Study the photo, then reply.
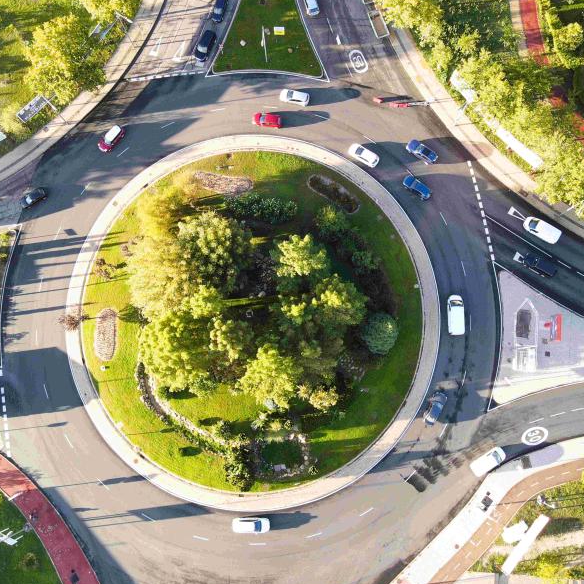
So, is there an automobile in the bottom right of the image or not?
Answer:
Yes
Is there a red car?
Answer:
Yes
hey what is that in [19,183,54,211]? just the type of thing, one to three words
car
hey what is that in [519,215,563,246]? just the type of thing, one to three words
car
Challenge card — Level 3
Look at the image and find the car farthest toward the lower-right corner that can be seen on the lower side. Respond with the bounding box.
[470,444,507,476]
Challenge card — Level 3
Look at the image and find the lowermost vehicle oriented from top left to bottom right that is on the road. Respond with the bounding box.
[520,247,563,281]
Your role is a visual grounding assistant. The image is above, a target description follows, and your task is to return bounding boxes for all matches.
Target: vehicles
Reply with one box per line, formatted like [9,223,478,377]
[398,172,434,202]
[19,183,54,211]
[445,293,466,335]
[276,87,312,107]
[191,27,221,66]
[519,215,563,246]
[209,0,232,27]
[97,123,127,155]
[251,112,284,130]
[402,138,441,167]
[232,513,271,534]
[470,444,507,476]
[346,141,383,170]
[520,247,563,281]
[421,388,448,426]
